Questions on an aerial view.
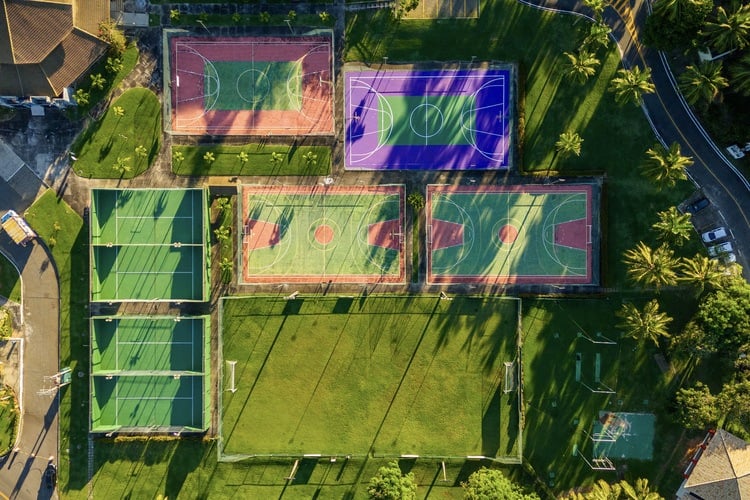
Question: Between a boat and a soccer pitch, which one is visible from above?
soccer pitch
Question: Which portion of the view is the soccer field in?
bottom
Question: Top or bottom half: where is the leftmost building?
top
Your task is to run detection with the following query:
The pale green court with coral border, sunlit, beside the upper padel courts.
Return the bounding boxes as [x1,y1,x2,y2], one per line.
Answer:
[242,184,406,284]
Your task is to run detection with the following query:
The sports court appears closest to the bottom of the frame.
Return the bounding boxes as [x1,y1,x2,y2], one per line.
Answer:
[90,372,209,433]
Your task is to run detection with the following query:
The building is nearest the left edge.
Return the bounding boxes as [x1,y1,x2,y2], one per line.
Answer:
[0,0,111,97]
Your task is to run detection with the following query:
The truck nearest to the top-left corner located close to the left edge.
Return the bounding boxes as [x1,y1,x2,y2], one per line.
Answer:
[0,211,32,245]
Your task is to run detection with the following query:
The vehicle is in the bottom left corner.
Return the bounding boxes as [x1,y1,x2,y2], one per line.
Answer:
[42,463,56,488]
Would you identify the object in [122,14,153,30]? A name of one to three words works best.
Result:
shed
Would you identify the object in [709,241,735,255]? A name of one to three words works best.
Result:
car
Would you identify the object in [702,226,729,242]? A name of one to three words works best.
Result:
car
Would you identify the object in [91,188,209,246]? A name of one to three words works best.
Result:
sports court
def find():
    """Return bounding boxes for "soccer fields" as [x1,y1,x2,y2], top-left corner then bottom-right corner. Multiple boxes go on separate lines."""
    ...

[222,298,520,457]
